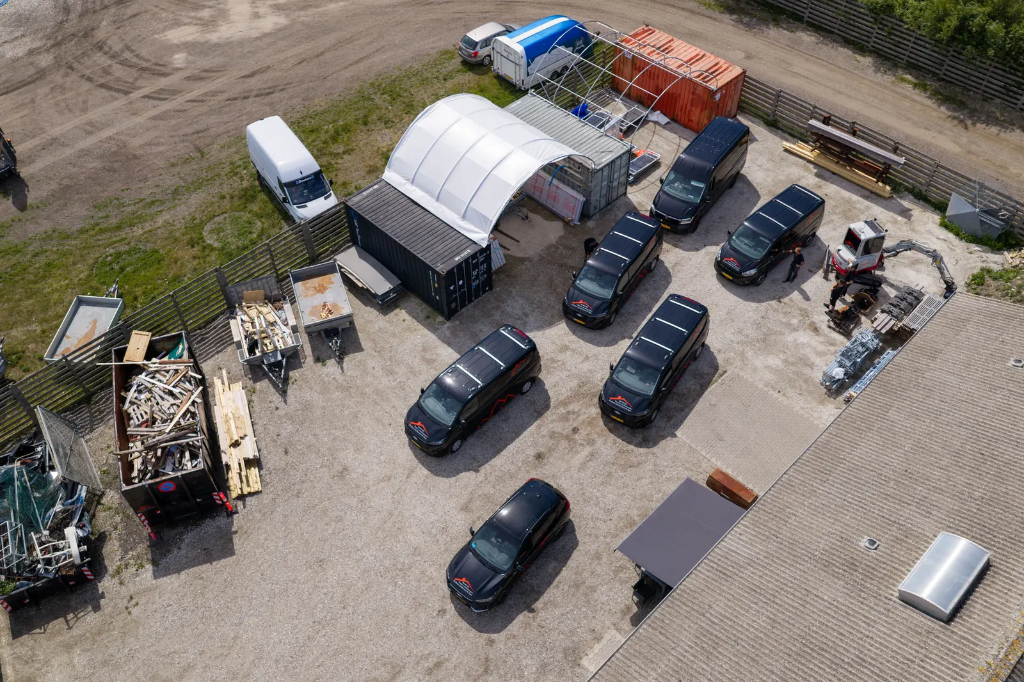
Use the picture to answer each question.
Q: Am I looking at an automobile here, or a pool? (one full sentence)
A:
Looking from above, you can make out an automobile.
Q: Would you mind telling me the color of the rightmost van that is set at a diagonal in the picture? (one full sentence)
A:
In this view, the rightmost van that is set at a diagonal is black.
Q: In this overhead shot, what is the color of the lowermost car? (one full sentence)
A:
The lowermost car is black.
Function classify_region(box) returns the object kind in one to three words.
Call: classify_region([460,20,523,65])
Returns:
car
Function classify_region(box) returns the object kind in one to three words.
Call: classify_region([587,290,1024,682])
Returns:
building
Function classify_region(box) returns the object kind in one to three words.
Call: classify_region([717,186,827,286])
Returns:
van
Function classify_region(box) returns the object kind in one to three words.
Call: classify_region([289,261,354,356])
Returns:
trailer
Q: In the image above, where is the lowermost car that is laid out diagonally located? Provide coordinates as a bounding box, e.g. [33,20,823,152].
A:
[450,480,572,608]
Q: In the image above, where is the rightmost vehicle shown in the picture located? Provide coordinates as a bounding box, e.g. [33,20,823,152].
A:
[823,216,948,296]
